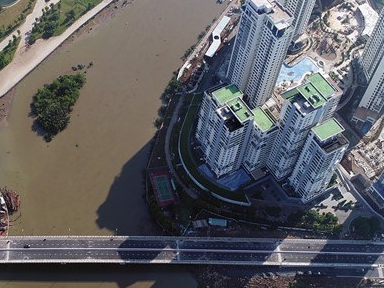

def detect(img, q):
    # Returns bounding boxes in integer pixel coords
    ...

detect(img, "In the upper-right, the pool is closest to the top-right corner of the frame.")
[273,55,321,91]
